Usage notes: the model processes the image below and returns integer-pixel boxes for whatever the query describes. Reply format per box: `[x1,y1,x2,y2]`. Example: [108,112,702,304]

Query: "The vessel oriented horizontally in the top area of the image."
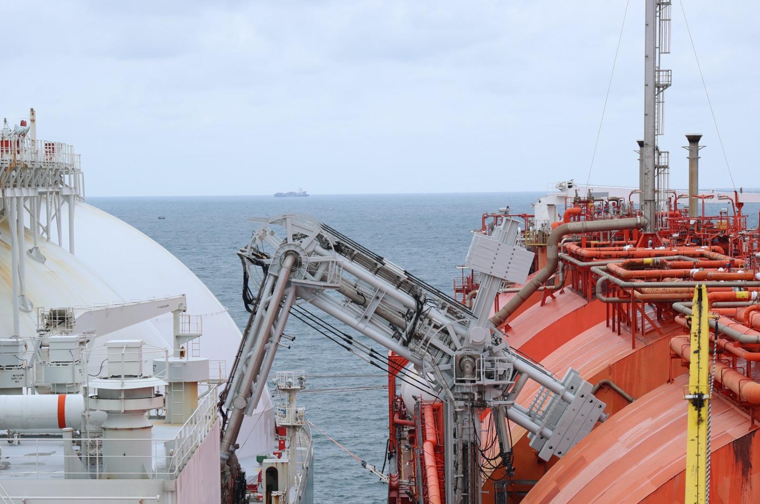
[274,186,309,199]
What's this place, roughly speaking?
industrial area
